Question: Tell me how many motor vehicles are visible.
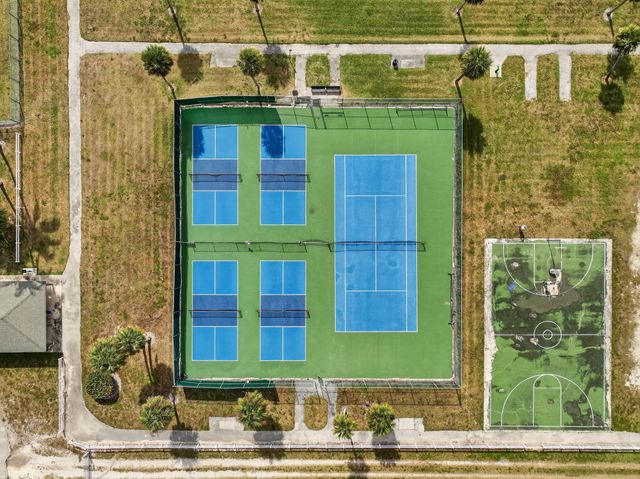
0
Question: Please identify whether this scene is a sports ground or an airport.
sports ground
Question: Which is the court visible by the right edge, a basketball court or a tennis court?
basketball court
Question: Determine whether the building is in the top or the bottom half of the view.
bottom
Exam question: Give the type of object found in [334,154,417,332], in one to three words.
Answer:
tennis court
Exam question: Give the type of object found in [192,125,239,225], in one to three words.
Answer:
sports court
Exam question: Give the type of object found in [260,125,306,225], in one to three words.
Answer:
sports court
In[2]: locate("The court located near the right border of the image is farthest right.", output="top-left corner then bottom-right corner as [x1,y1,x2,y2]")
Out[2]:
[484,238,612,432]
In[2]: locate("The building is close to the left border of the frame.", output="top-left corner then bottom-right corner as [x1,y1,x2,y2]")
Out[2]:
[0,281,49,353]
